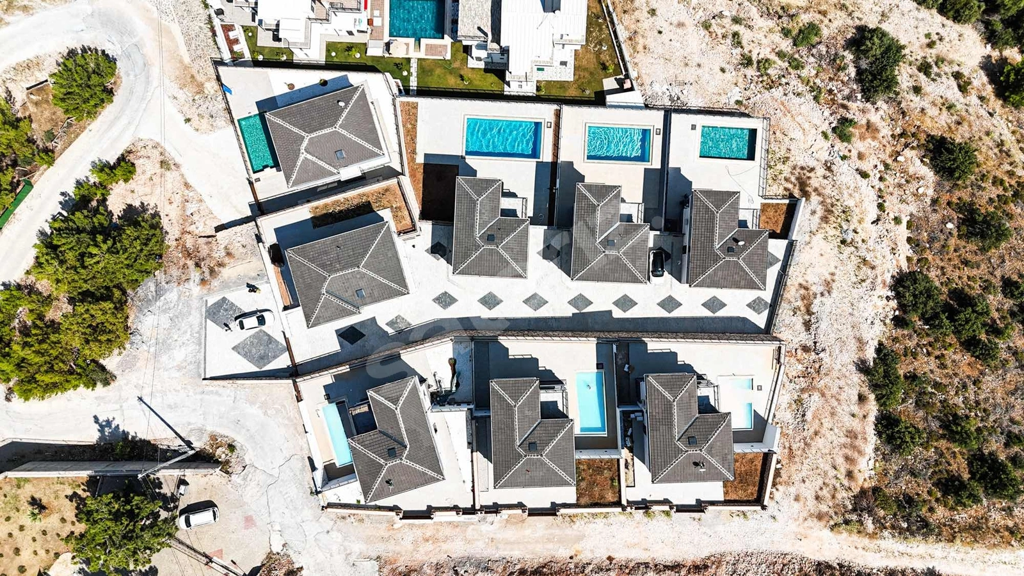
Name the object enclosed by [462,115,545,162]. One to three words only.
swimming pool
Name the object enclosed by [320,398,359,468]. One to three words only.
swimming pool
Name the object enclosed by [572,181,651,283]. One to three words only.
house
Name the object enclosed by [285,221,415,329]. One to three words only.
house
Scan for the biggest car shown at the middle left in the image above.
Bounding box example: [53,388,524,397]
[236,310,275,330]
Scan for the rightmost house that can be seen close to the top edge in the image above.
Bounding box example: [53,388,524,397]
[458,0,586,94]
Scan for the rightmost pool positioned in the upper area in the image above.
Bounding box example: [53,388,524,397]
[695,121,761,165]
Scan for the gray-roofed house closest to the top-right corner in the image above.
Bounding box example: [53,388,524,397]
[684,187,768,292]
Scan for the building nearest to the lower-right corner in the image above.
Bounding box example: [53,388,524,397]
[643,372,736,484]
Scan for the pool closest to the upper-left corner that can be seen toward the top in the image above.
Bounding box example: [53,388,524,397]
[235,110,281,176]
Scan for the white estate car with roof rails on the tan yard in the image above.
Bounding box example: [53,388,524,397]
[180,502,221,528]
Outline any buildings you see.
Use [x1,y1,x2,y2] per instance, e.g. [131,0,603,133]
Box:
[285,221,415,329]
[346,370,446,505]
[684,187,768,292]
[264,78,392,189]
[643,372,736,484]
[489,376,577,490]
[452,176,531,278]
[231,0,366,56]
[458,0,586,94]
[572,181,651,283]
